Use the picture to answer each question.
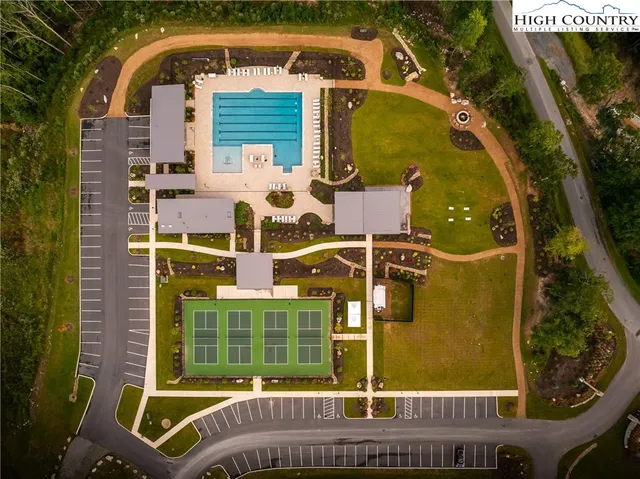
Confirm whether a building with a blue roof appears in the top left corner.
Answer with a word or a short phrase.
No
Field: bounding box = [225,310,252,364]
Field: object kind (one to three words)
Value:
sports court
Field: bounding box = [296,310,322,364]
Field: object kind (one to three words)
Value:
sports court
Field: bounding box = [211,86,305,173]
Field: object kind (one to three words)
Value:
swimming pool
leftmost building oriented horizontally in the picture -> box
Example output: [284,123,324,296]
[157,198,236,233]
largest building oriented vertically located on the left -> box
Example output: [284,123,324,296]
[151,84,187,164]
